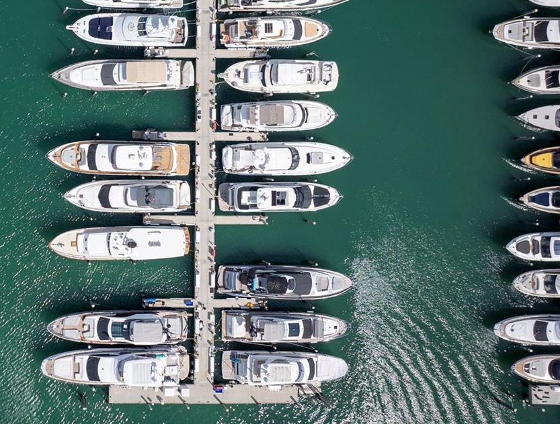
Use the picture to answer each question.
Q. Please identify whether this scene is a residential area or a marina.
marina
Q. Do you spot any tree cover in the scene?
No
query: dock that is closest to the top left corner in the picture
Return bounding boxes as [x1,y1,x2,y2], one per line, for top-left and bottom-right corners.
[108,0,320,404]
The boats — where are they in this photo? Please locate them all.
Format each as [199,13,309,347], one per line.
[219,182,343,213]
[51,59,194,91]
[504,232,560,261]
[48,309,192,343]
[222,142,353,176]
[511,67,560,97]
[221,102,336,132]
[494,320,560,356]
[527,0,560,7]
[222,347,348,384]
[222,309,347,342]
[511,354,560,384]
[217,0,346,14]
[519,146,560,174]
[46,141,189,176]
[517,104,560,130]
[66,12,188,47]
[49,226,190,260]
[216,60,337,93]
[492,16,560,49]
[63,179,190,213]
[220,16,330,48]
[515,270,560,301]
[216,264,353,298]
[85,0,183,8]
[519,186,560,213]
[41,344,189,386]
